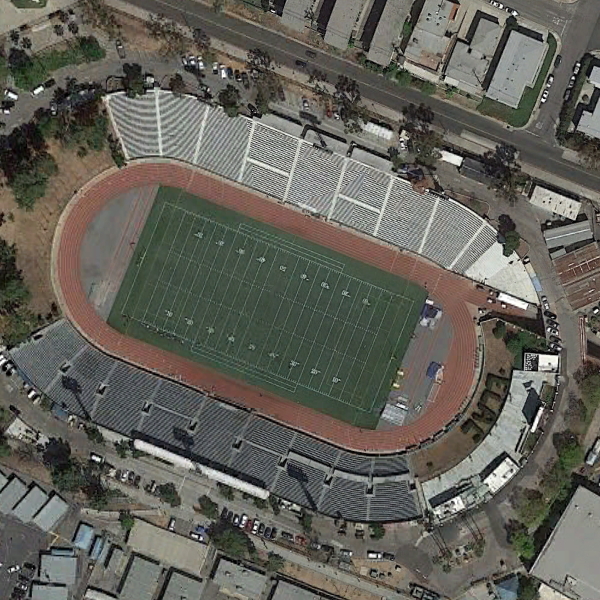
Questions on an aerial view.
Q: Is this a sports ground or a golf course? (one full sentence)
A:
This image shows a sports ground.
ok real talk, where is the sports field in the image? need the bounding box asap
[106,186,429,428]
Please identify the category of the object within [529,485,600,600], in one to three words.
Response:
building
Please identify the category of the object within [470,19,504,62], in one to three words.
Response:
house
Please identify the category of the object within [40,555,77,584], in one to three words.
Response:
building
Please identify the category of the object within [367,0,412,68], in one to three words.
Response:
house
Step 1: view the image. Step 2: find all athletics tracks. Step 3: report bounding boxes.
[57,163,542,451]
